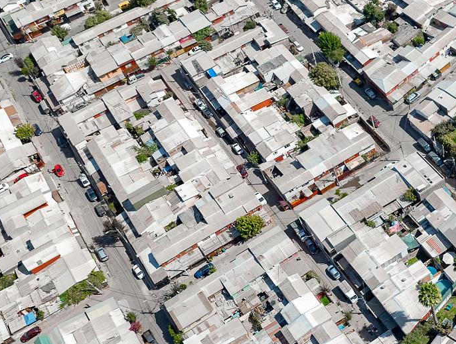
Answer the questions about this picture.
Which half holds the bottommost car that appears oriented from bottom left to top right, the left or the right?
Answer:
left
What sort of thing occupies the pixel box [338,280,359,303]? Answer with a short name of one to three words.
vehicle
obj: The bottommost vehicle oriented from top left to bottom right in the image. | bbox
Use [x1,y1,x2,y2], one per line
[139,327,162,344]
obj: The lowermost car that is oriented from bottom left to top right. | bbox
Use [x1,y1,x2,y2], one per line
[20,324,45,344]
